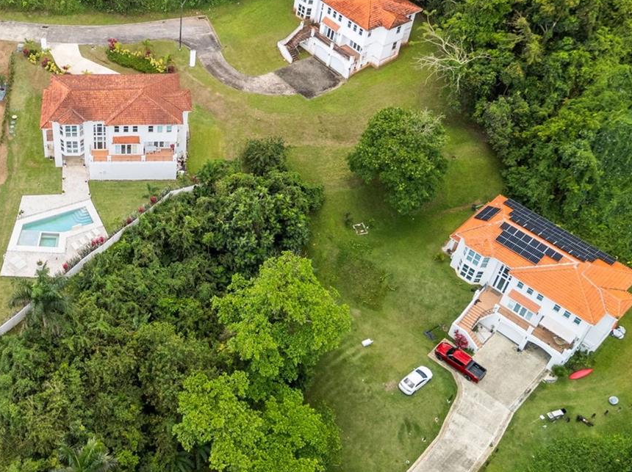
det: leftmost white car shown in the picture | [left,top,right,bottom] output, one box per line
[399,364,433,395]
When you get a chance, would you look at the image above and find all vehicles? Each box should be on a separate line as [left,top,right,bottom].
[436,340,488,382]
[399,364,433,395]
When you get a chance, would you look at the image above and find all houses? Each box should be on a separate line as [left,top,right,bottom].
[287,0,422,76]
[43,73,193,181]
[441,194,632,372]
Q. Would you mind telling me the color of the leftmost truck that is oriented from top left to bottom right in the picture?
red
